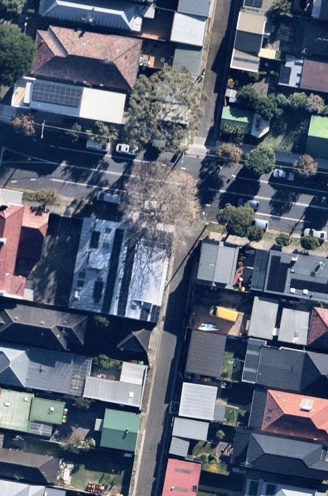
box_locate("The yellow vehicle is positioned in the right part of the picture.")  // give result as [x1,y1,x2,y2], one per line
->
[207,304,243,322]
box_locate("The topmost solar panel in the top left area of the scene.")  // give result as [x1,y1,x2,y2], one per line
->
[33,81,83,107]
